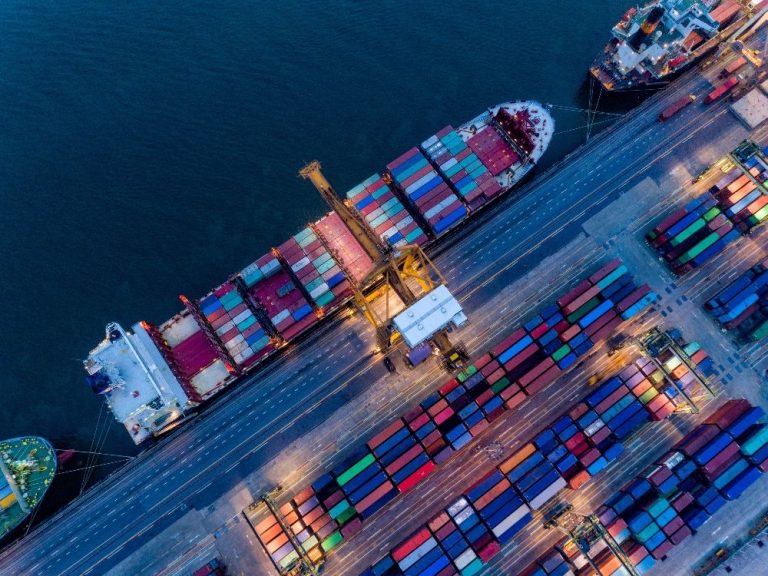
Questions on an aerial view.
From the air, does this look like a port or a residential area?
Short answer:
port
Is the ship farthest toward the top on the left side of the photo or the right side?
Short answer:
right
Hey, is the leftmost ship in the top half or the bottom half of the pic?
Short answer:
bottom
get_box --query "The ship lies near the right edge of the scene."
[591,0,768,90]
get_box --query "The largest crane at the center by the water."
[293,150,475,375]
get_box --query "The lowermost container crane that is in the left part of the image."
[237,484,327,576]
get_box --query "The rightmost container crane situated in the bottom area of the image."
[617,328,722,418]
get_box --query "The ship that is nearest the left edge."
[0,442,73,540]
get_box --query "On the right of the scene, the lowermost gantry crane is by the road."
[547,505,644,576]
